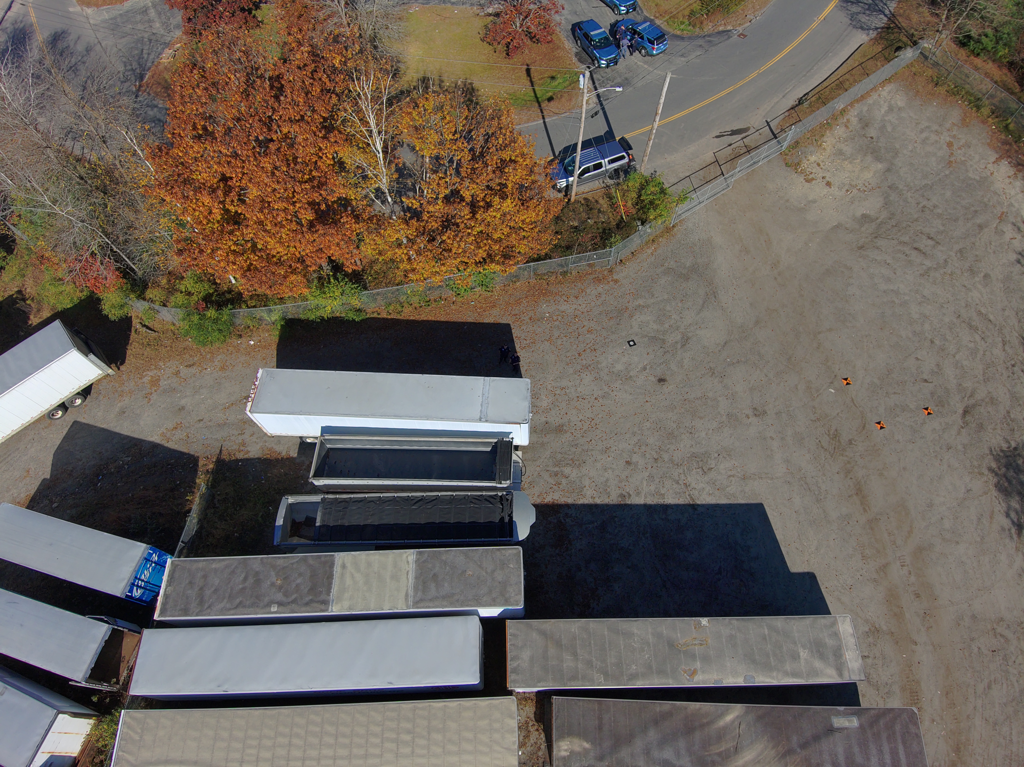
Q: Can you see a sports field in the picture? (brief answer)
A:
No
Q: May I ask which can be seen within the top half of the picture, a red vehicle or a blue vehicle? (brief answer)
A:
blue vehicle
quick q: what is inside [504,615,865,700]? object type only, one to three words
trailer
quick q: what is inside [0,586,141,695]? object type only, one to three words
trailer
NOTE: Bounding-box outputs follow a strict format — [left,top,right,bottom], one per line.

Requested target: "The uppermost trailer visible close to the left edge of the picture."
[0,318,122,448]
